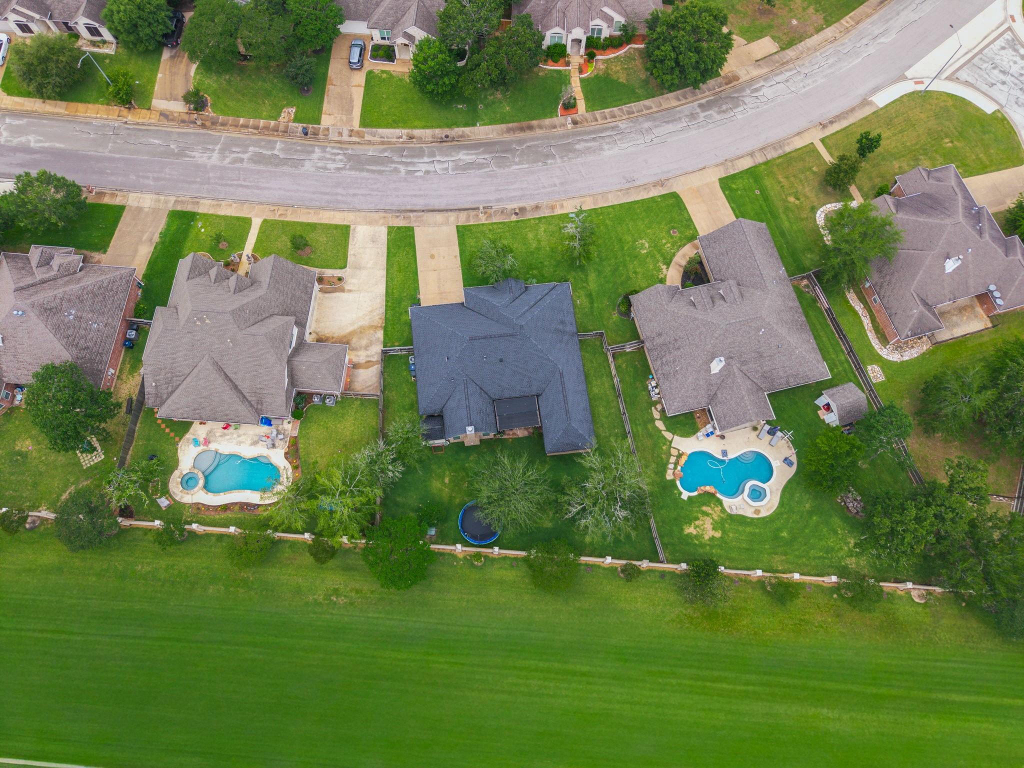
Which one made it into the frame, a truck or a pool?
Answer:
pool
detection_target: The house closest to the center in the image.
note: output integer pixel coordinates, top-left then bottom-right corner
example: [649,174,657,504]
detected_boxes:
[409,278,596,457]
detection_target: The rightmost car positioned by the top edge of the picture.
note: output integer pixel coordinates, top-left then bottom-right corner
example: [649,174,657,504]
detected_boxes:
[345,38,364,70]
